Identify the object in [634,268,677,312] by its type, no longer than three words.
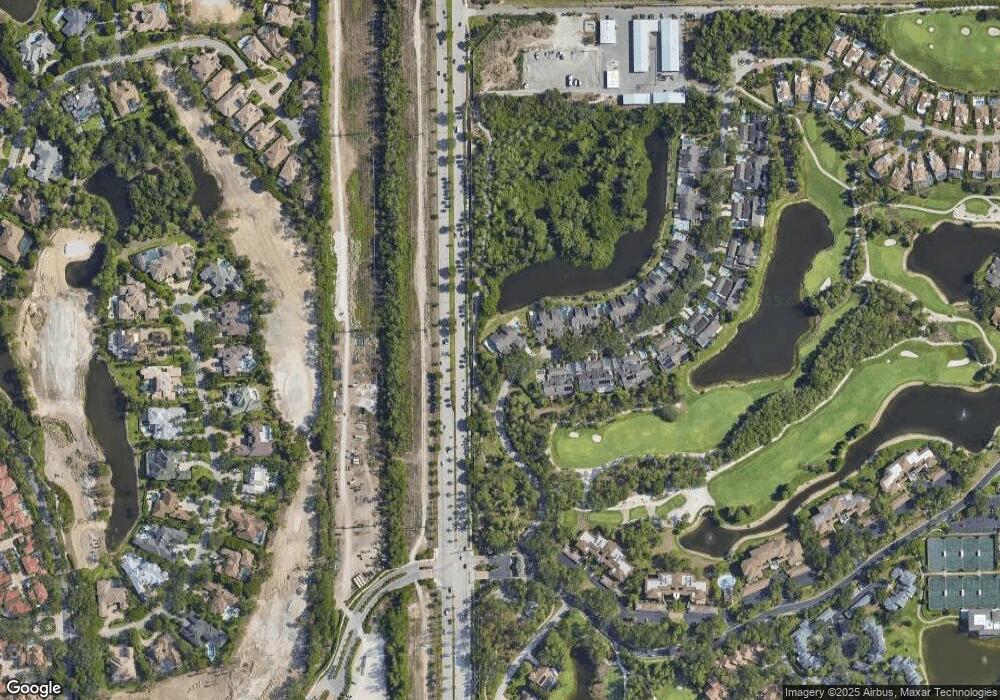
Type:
house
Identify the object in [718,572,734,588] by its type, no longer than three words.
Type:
swimming pool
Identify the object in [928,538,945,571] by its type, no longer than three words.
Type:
tennis court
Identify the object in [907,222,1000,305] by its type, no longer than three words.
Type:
pond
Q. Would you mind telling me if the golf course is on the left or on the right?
right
